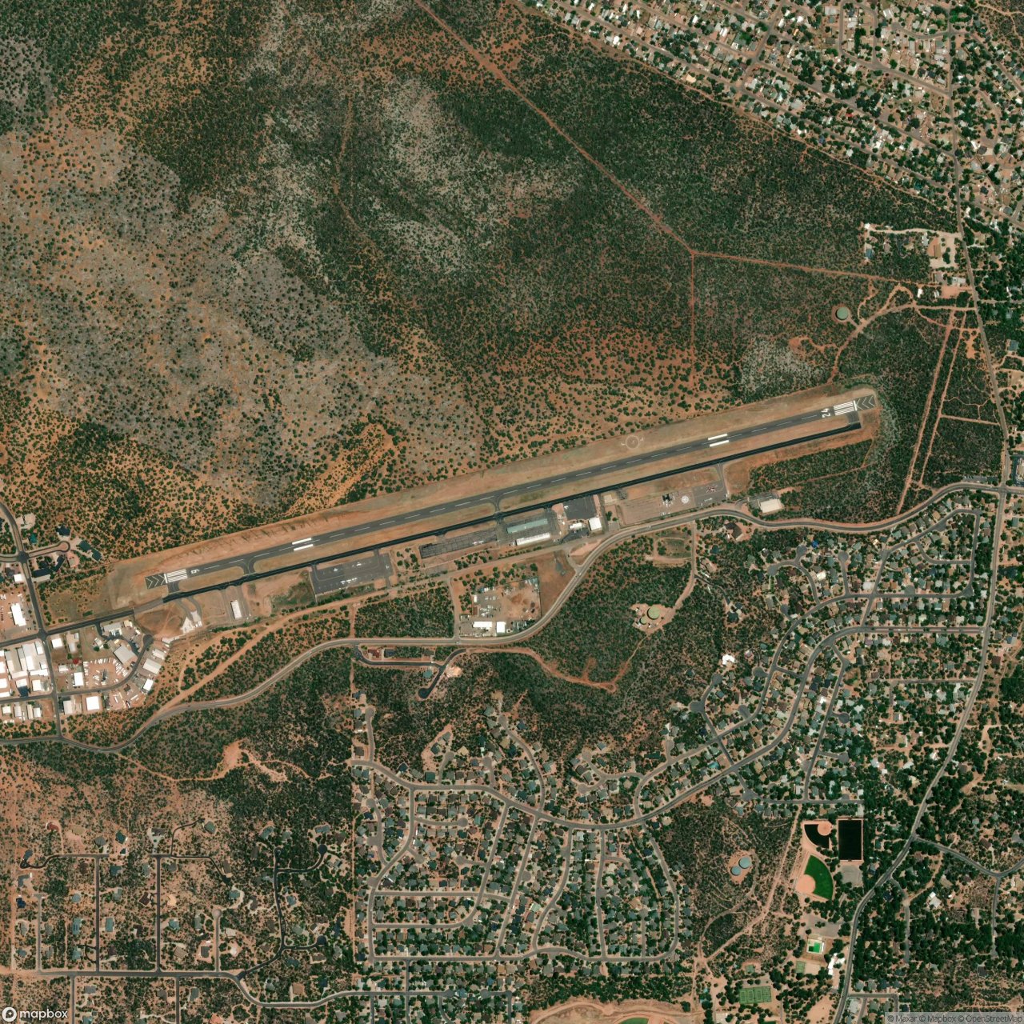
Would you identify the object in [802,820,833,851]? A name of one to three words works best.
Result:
baseball field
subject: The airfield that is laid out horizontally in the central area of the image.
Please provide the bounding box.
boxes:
[145,394,876,633]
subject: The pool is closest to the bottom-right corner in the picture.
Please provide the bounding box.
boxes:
[807,939,823,954]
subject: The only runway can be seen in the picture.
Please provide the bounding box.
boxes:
[147,396,873,585]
